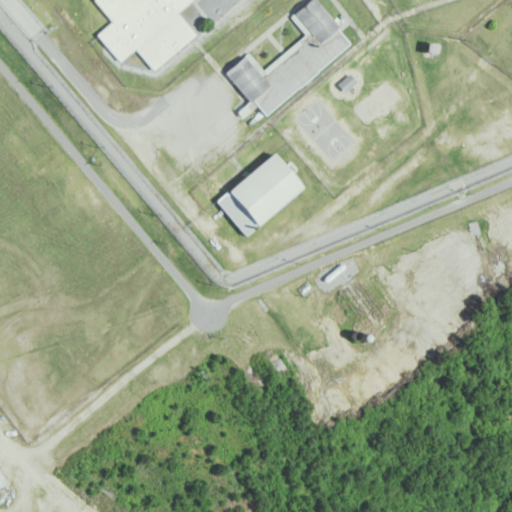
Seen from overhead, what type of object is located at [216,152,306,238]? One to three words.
building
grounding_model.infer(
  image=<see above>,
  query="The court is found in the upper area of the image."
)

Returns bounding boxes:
[296,100,354,160]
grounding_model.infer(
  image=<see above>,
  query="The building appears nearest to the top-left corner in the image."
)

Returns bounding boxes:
[94,0,197,69]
